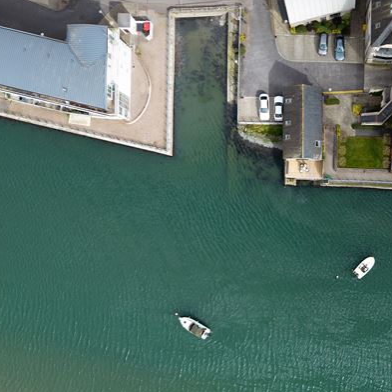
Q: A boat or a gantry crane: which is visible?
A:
boat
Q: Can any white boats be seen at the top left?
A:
No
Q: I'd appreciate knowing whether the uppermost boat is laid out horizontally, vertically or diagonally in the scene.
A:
diagonally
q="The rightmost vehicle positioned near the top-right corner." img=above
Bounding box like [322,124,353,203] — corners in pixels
[334,36,346,62]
